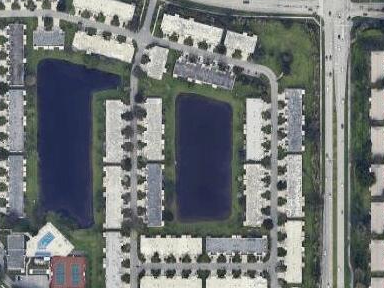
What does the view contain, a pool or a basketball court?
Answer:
pool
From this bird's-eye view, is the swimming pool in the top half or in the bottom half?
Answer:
bottom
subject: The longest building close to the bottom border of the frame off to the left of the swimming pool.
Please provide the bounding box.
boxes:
[7,234,24,274]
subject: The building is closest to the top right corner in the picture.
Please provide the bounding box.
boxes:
[369,52,384,82]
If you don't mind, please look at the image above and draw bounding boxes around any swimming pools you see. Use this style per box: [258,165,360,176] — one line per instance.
[26,223,73,257]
